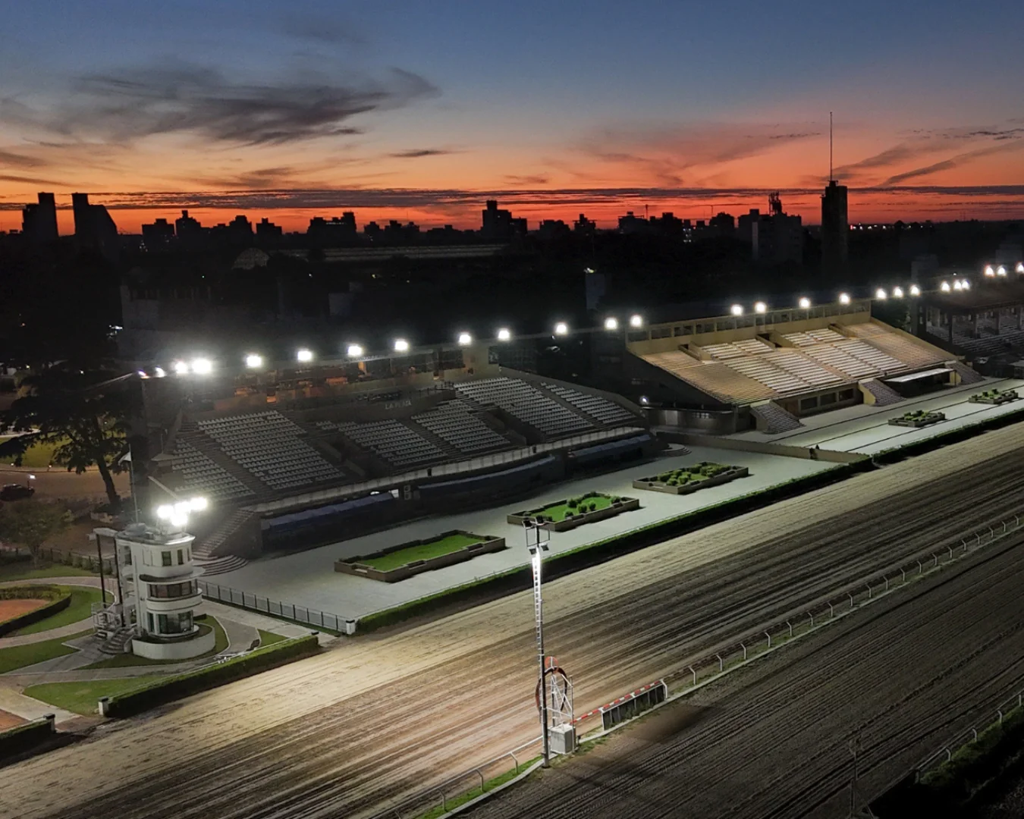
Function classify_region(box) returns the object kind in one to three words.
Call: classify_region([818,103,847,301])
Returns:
building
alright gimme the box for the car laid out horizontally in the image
[3,484,39,499]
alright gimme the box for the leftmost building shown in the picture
[18,187,58,266]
